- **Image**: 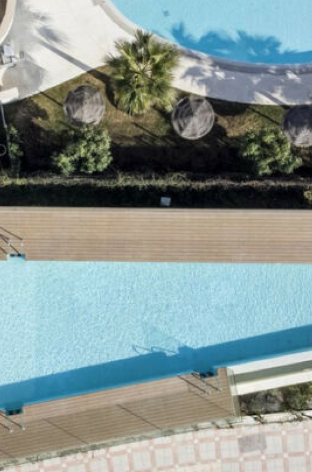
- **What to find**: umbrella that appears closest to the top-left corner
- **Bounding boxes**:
[61,84,106,126]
